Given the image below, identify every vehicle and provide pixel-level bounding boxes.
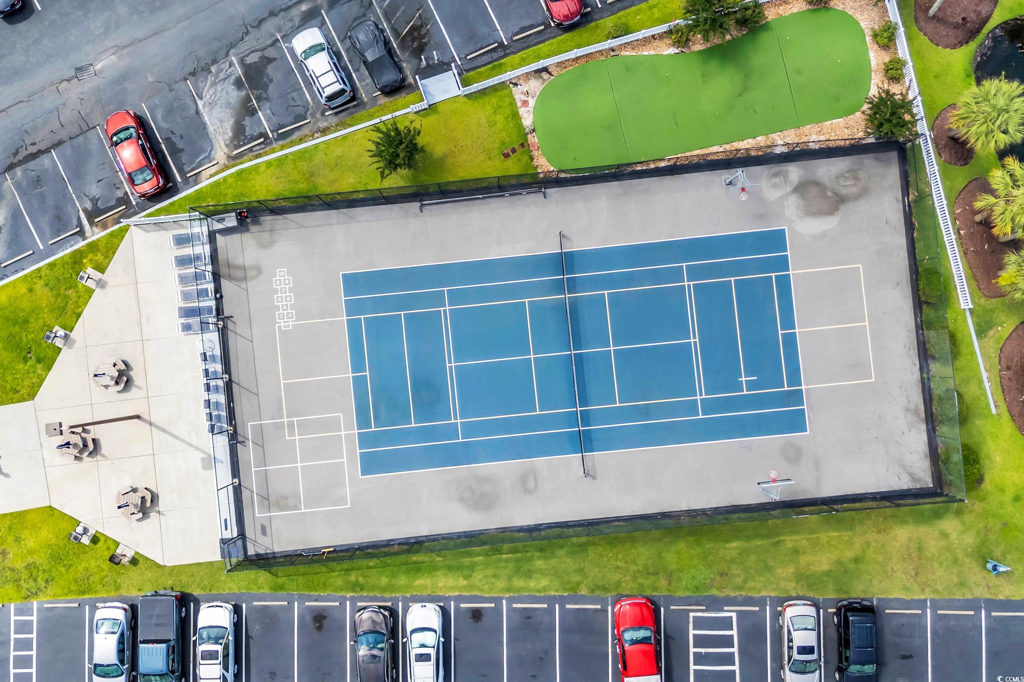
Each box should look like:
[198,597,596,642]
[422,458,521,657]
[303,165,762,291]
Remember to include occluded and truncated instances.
[831,597,883,682]
[134,585,186,682]
[87,602,135,682]
[105,108,169,202]
[294,27,352,111]
[0,0,17,19]
[352,604,393,682]
[614,596,661,682]
[780,599,827,682]
[541,0,581,29]
[193,602,238,682]
[404,604,444,682]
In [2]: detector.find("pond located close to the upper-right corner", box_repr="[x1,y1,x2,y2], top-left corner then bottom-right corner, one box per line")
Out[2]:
[972,13,1024,169]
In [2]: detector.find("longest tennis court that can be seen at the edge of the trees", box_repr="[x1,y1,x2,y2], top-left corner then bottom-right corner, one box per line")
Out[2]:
[207,140,943,566]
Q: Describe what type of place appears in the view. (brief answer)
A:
sports ground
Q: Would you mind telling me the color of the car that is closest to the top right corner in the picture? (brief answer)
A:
red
